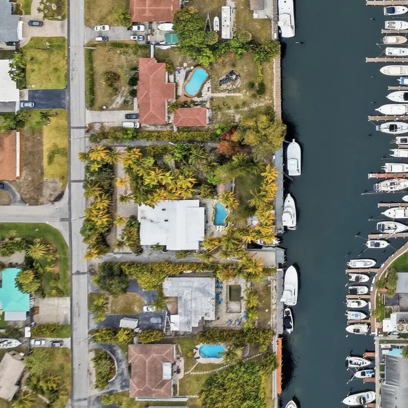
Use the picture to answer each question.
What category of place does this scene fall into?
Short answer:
residential area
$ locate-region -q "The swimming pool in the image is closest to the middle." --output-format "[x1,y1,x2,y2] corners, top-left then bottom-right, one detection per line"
[213,202,228,227]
